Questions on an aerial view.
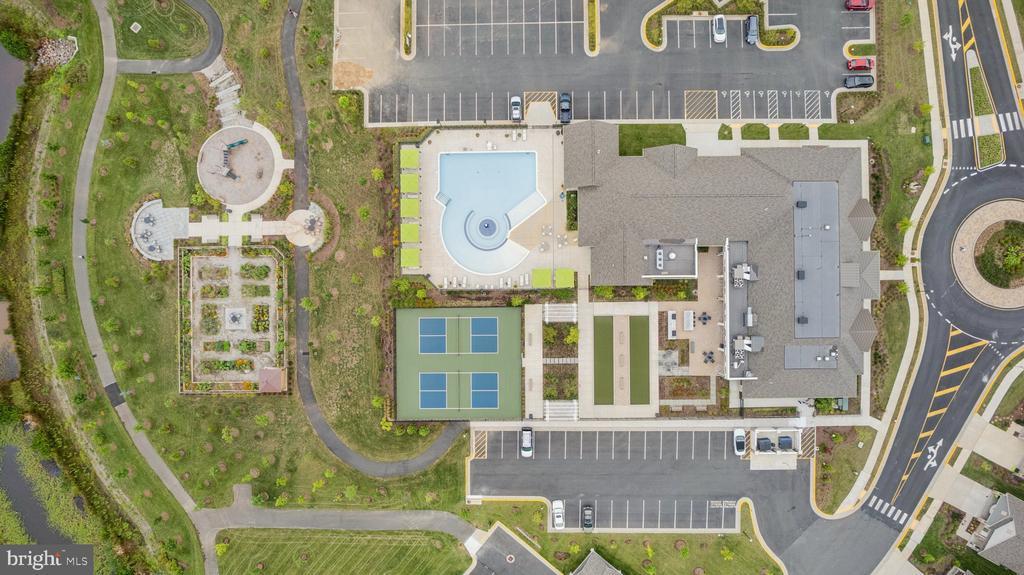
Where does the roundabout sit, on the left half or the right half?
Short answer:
right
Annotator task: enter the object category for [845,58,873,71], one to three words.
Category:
vehicle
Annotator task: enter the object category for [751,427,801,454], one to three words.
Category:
building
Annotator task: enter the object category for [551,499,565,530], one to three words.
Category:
car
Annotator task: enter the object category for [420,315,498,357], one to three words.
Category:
sports court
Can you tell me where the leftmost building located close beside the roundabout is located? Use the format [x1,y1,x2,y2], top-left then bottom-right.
[564,121,880,397]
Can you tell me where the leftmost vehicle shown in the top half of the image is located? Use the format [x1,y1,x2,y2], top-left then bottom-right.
[509,96,522,122]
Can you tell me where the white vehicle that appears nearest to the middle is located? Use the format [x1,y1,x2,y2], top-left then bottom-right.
[519,426,534,457]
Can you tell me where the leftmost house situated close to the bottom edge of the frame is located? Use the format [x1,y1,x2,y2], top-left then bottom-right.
[567,547,625,575]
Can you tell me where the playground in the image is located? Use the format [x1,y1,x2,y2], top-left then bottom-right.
[196,125,278,207]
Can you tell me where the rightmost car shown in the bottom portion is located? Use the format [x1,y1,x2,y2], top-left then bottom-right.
[732,427,747,456]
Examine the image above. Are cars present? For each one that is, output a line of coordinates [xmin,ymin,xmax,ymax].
[841,0,872,11]
[845,58,873,71]
[732,427,747,456]
[712,14,727,45]
[509,96,522,122]
[582,501,595,531]
[745,14,759,46]
[519,426,534,457]
[842,74,873,89]
[551,499,565,530]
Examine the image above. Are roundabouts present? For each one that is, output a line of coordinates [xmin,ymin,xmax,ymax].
[924,170,1024,338]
